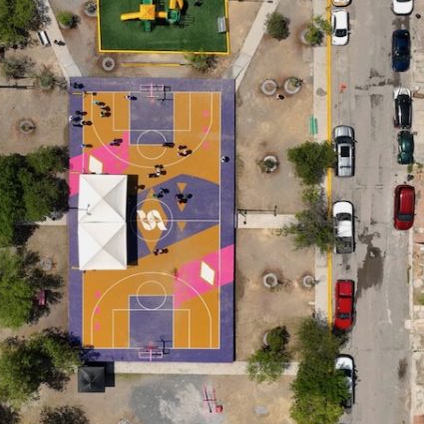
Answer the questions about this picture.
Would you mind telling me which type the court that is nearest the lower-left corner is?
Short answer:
basketball court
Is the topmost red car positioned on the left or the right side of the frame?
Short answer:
right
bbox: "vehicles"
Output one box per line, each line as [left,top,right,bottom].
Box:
[334,126,356,178]
[334,354,355,404]
[333,201,355,254]
[394,87,415,130]
[394,183,416,231]
[330,9,350,46]
[396,129,415,166]
[333,279,355,330]
[392,0,414,16]
[391,30,412,74]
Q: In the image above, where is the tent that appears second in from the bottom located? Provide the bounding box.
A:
[79,221,129,270]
